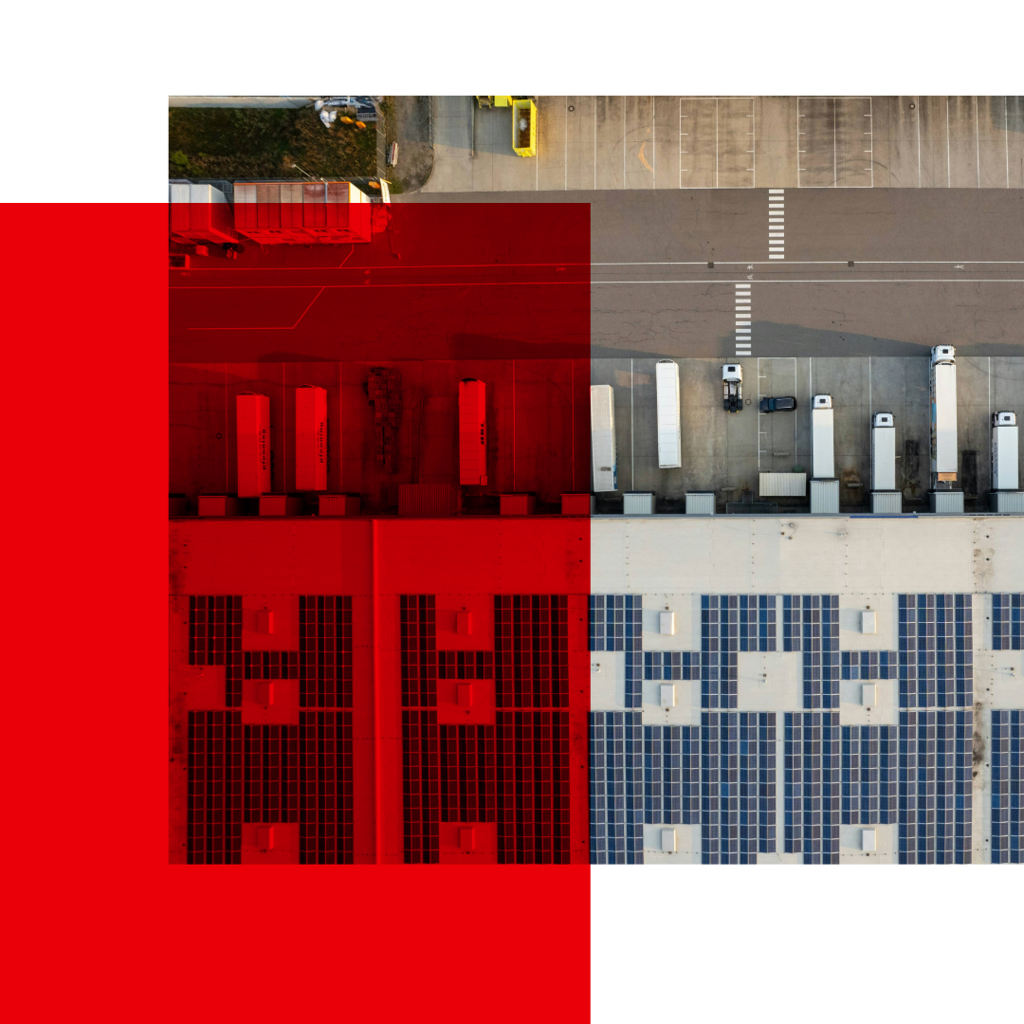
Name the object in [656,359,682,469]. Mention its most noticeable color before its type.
white trailer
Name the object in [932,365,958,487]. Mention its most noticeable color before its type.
white trailer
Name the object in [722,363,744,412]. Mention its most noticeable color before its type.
white truck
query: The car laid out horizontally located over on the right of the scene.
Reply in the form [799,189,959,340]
[759,395,797,413]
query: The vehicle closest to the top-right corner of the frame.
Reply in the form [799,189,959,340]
[930,345,954,391]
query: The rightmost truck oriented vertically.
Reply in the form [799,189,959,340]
[993,409,1019,489]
